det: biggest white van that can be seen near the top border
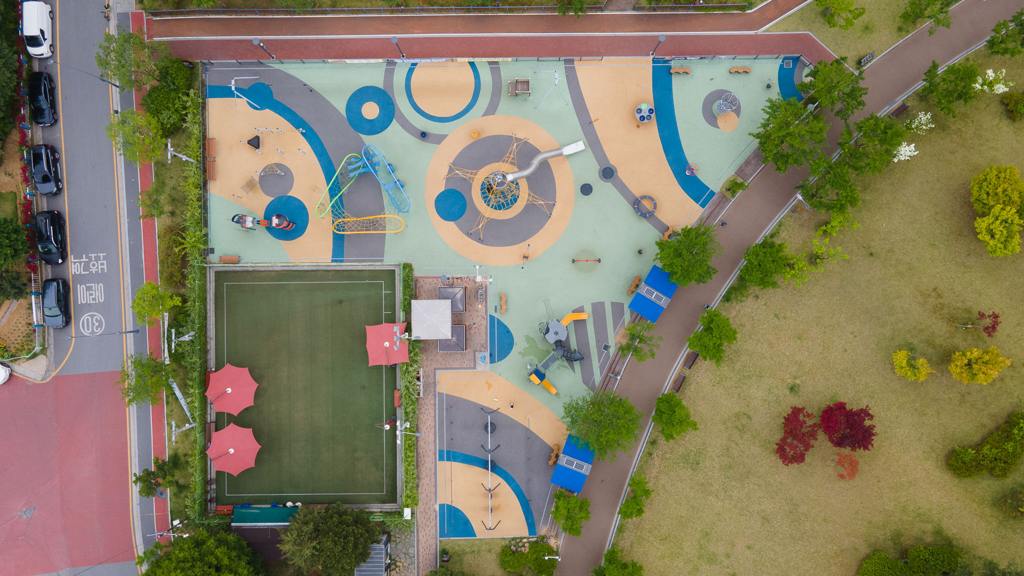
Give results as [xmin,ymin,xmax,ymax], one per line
[19,1,53,59]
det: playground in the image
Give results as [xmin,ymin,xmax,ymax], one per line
[206,57,815,539]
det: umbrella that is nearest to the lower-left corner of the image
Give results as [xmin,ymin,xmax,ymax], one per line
[203,423,262,476]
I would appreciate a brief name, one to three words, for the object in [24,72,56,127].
car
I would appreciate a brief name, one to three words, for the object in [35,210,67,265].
car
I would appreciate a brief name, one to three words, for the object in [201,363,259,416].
umbrella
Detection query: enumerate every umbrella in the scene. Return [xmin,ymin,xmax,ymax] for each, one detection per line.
[203,423,262,476]
[375,416,397,430]
[366,322,409,368]
[201,363,259,416]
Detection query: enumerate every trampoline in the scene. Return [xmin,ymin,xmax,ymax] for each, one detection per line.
[602,166,615,179]
[580,183,593,196]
